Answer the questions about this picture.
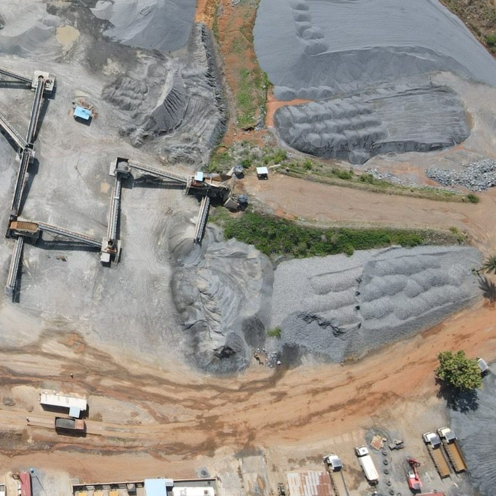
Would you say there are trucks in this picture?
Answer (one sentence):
Yes, there's a truck here.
